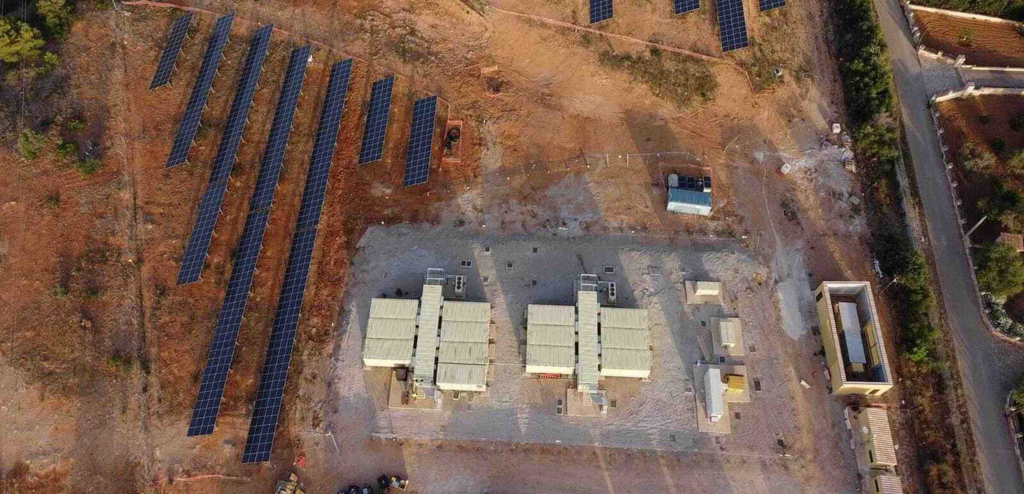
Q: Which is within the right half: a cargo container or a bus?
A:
cargo container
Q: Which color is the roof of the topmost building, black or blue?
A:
blue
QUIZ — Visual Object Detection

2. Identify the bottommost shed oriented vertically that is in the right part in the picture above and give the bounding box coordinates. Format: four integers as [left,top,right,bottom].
[860,409,897,469]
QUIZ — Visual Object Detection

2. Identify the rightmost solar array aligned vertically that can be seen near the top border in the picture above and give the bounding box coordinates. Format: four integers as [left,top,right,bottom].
[716,0,748,53]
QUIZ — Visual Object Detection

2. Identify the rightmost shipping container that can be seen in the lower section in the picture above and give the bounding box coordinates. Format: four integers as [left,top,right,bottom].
[833,302,868,377]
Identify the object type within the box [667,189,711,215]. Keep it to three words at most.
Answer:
building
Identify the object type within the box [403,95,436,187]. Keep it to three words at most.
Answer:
solar array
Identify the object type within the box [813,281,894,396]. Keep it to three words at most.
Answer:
building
